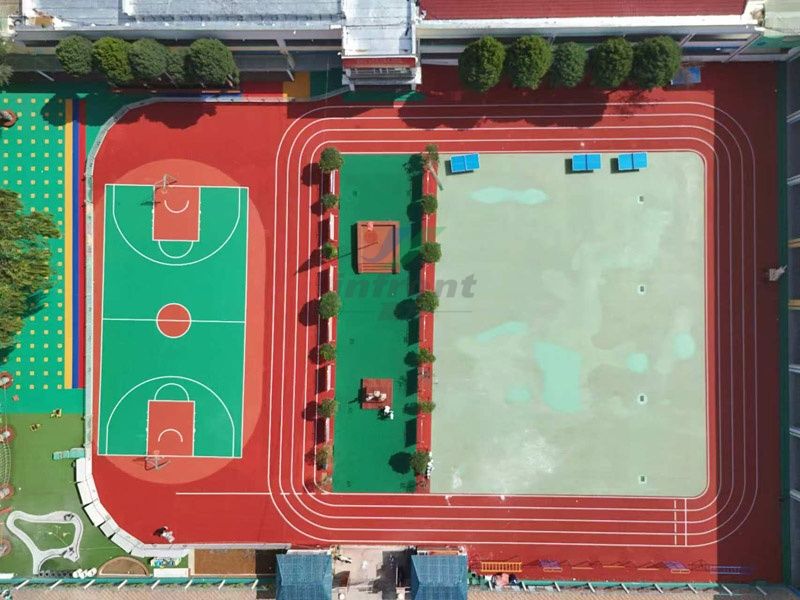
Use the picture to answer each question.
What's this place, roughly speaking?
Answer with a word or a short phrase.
sports ground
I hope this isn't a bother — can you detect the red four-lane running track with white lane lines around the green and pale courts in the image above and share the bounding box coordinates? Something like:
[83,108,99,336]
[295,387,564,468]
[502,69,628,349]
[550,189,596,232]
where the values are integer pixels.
[176,104,759,548]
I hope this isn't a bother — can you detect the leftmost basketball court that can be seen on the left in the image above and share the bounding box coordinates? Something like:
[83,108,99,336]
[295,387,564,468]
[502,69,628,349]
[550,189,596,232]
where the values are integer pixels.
[91,161,264,485]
